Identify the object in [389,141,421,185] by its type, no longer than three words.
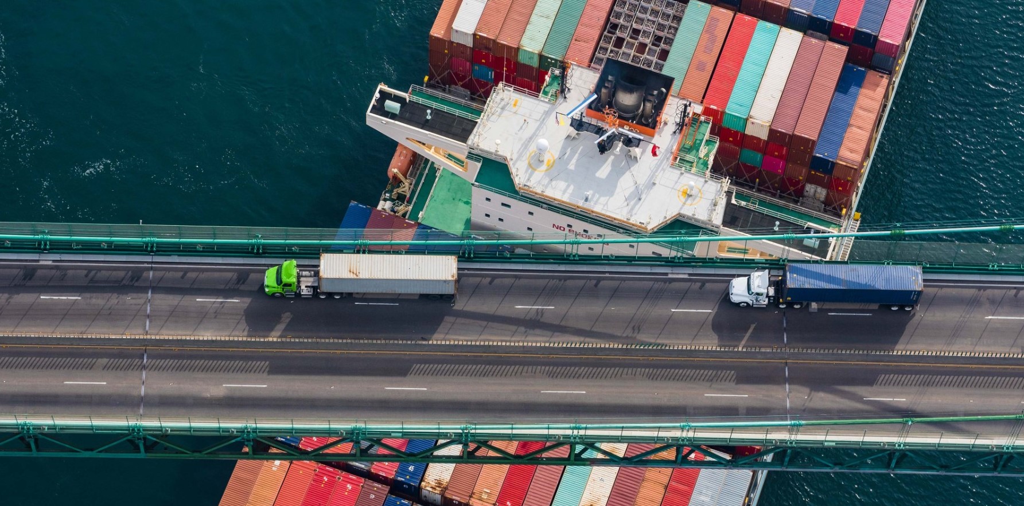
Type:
boat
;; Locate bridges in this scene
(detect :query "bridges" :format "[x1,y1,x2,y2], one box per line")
[0,215,1024,476]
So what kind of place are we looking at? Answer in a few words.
port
